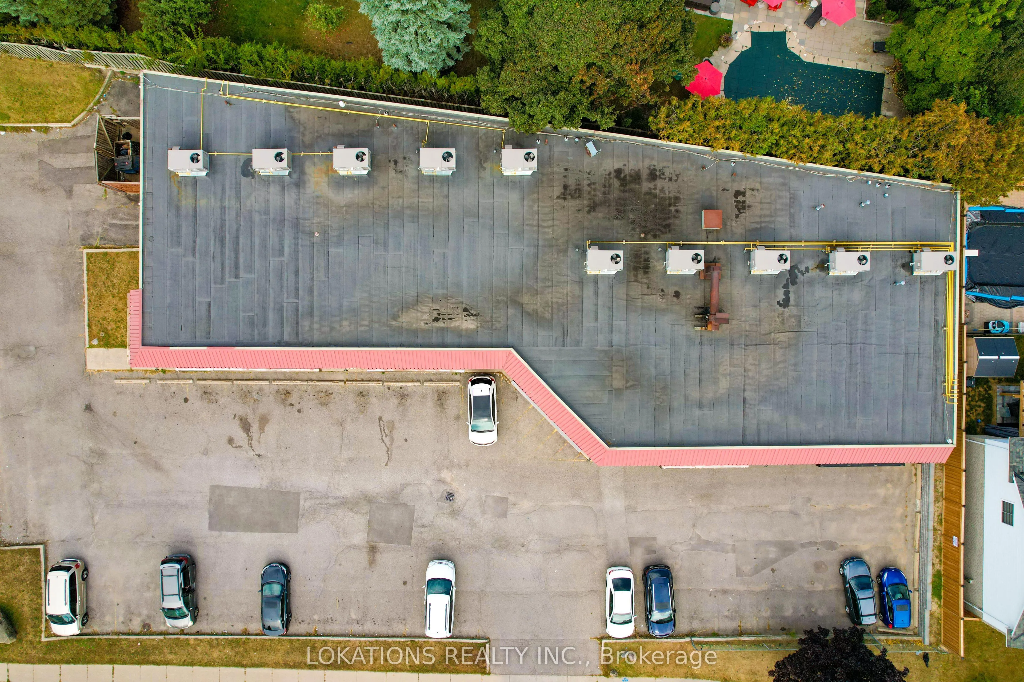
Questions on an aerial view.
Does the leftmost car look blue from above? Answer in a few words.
No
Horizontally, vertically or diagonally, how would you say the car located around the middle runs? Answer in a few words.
vertically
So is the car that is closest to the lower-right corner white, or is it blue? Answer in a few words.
blue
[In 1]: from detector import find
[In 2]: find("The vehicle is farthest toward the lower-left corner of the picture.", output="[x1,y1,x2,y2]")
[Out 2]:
[41,558,88,637]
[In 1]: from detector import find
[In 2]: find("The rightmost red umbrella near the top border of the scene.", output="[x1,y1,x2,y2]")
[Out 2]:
[822,0,856,25]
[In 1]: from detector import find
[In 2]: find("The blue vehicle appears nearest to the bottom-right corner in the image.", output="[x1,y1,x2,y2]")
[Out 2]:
[877,567,916,628]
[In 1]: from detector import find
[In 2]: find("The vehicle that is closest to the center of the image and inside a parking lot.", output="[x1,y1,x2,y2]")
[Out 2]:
[464,374,500,447]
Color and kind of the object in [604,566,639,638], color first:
white car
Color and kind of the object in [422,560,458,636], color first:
white car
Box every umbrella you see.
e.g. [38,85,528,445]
[685,63,723,97]
[755,0,789,11]
[822,0,856,25]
